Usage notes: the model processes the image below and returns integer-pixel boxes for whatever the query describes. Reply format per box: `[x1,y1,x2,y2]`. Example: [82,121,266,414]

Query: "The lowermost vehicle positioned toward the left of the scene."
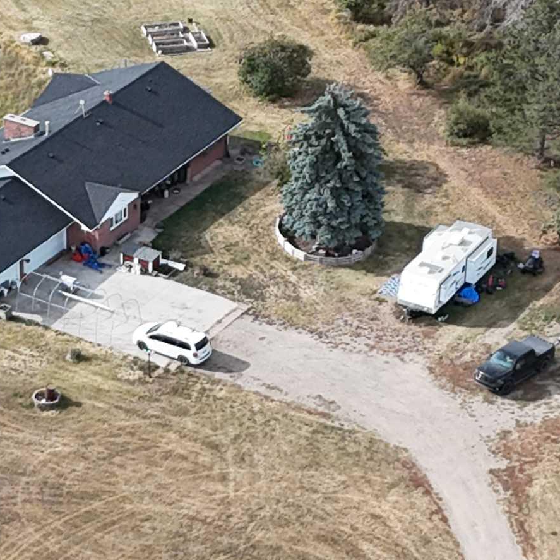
[129,320,214,365]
